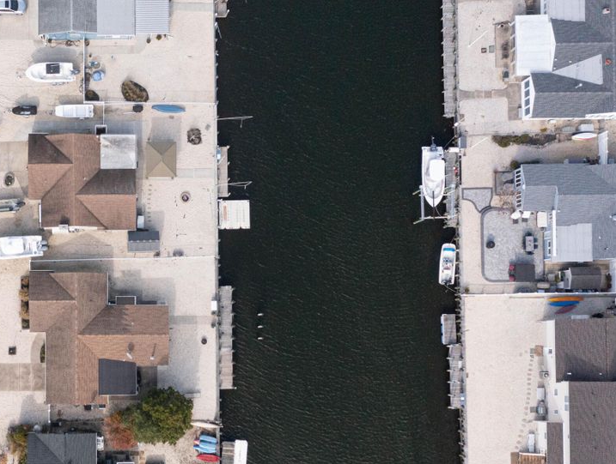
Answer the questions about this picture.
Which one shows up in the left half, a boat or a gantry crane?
boat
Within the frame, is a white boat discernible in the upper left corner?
Yes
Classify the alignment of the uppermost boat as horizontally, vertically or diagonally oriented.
horizontally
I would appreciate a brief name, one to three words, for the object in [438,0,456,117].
pier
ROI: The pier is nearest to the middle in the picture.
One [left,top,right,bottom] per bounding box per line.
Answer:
[218,199,249,229]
